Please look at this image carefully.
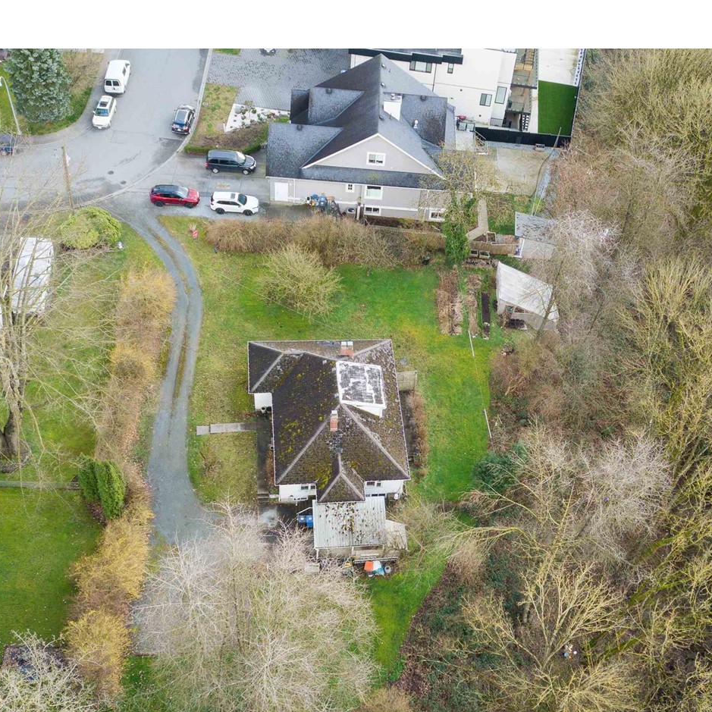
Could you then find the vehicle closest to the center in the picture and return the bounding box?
[209,191,259,217]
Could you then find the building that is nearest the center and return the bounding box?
[246,340,409,513]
